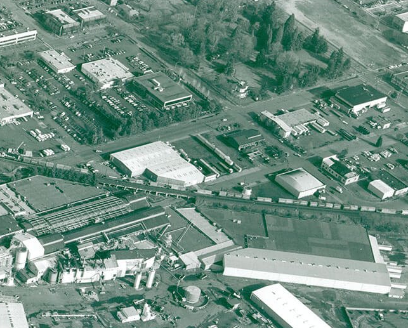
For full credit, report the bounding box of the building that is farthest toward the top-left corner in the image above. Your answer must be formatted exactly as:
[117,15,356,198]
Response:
[0,26,37,46]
